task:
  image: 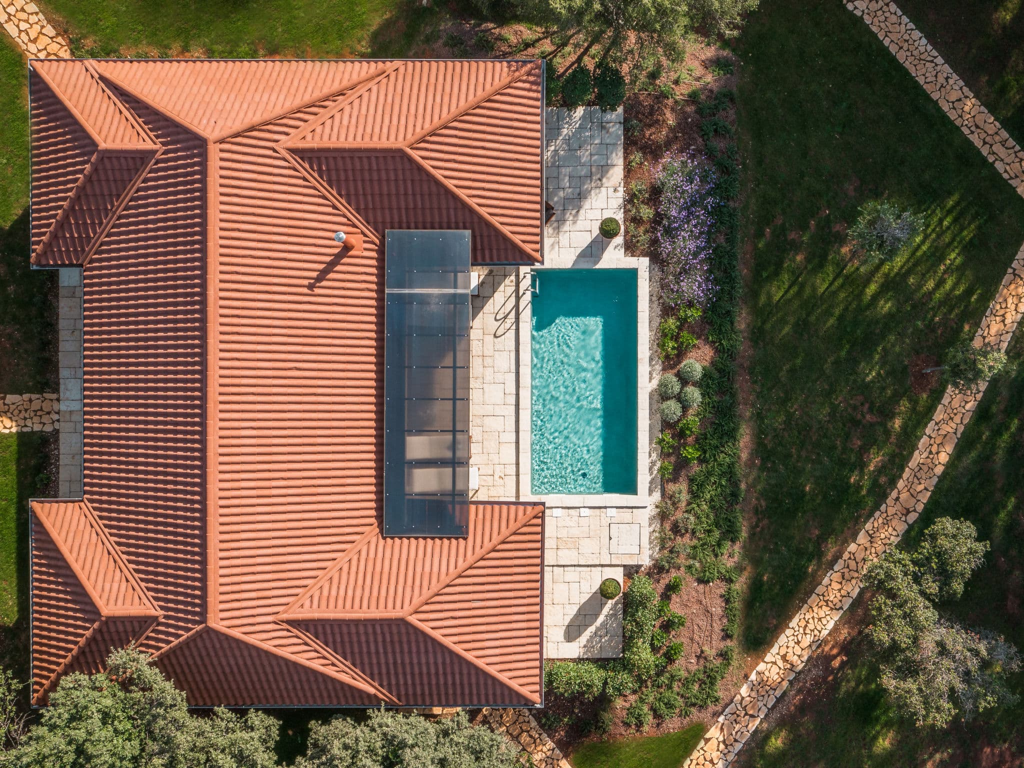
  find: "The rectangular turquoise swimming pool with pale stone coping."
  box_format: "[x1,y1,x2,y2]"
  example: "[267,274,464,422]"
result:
[520,258,649,506]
